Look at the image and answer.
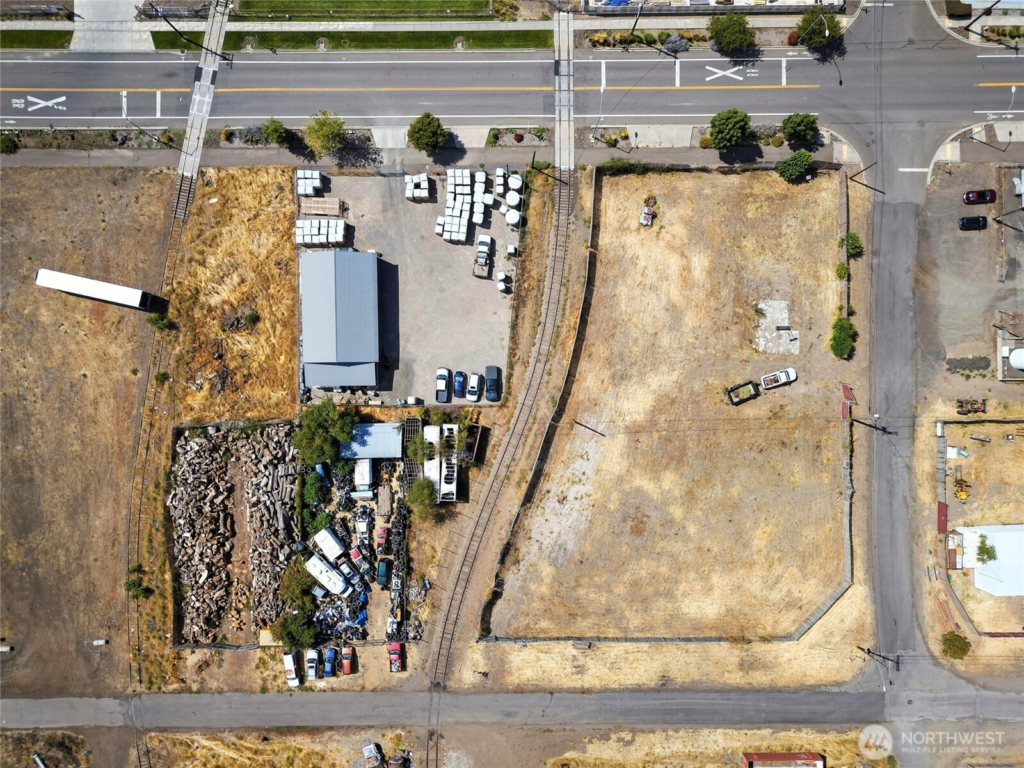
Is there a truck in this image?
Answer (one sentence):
Yes, this view includes a truck.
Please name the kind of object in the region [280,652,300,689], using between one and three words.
vehicle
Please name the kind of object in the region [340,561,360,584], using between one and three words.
car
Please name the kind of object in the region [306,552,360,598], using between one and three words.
camper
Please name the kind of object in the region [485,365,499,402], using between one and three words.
vehicle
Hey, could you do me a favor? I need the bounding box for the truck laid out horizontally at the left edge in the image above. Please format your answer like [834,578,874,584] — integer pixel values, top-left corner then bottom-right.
[35,268,164,312]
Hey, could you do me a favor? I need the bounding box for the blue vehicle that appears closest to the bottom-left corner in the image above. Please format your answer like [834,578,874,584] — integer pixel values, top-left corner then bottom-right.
[321,649,336,680]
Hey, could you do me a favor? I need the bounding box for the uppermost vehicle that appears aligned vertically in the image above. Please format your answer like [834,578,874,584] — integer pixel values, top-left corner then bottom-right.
[640,191,657,222]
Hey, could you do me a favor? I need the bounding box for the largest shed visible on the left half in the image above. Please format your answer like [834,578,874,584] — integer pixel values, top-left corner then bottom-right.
[300,248,381,362]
